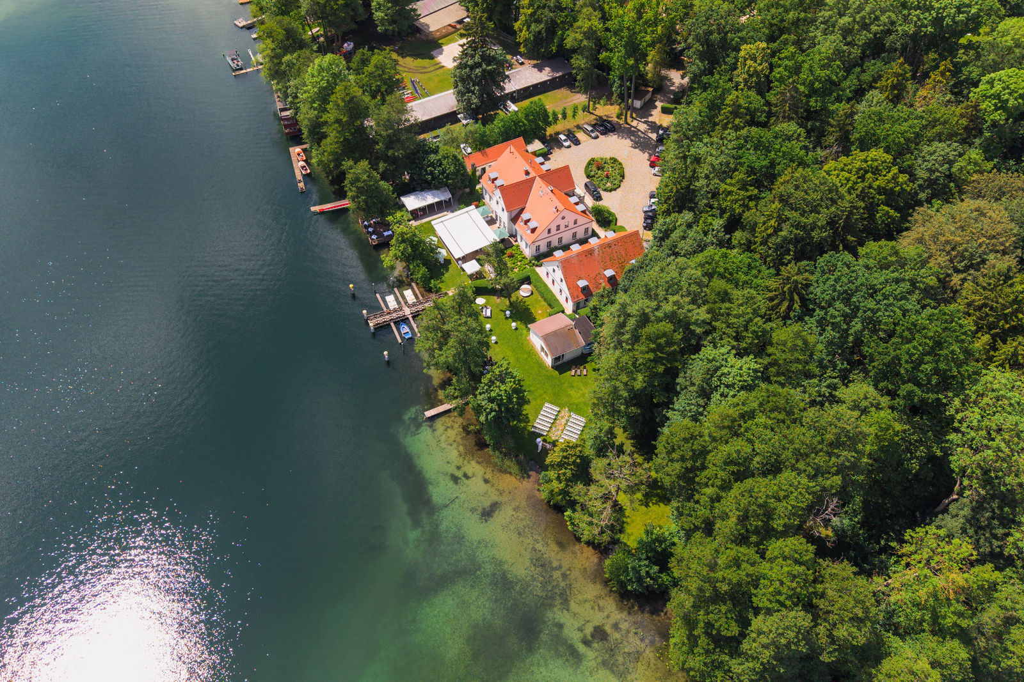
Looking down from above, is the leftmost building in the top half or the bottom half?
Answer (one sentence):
Seen from above, the leftmost building lies in the top half of the view.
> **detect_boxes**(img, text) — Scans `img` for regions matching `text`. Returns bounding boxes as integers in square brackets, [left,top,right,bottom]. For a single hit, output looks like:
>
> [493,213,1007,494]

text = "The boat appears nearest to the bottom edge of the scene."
[400,323,412,340]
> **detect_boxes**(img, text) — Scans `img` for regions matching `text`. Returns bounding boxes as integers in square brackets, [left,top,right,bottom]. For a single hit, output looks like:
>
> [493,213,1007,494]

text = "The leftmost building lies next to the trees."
[275,101,305,137]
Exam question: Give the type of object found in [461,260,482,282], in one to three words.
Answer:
gazebo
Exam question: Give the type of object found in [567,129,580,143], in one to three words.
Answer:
vehicle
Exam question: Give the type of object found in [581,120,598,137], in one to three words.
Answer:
car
